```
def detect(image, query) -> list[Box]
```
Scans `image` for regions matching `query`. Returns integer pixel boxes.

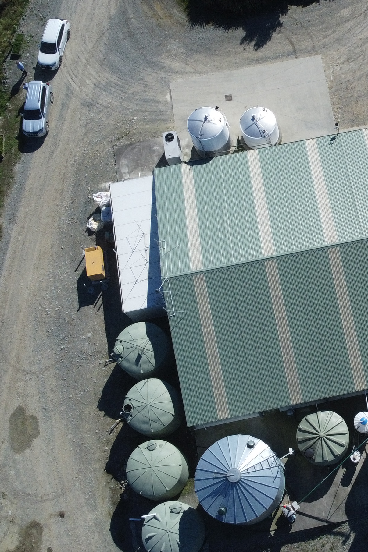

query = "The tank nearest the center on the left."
[110,324,174,380]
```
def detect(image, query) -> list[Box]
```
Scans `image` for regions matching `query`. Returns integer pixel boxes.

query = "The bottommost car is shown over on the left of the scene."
[19,84,56,143]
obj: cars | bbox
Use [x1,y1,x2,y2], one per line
[19,84,56,143]
[35,19,71,74]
